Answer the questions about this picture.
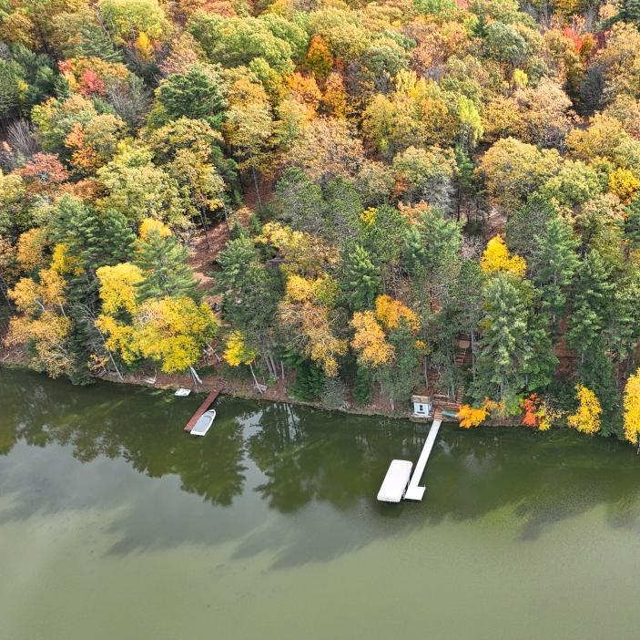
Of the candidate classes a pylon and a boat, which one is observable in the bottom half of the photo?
boat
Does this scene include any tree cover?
Yes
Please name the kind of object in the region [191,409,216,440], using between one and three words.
boat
